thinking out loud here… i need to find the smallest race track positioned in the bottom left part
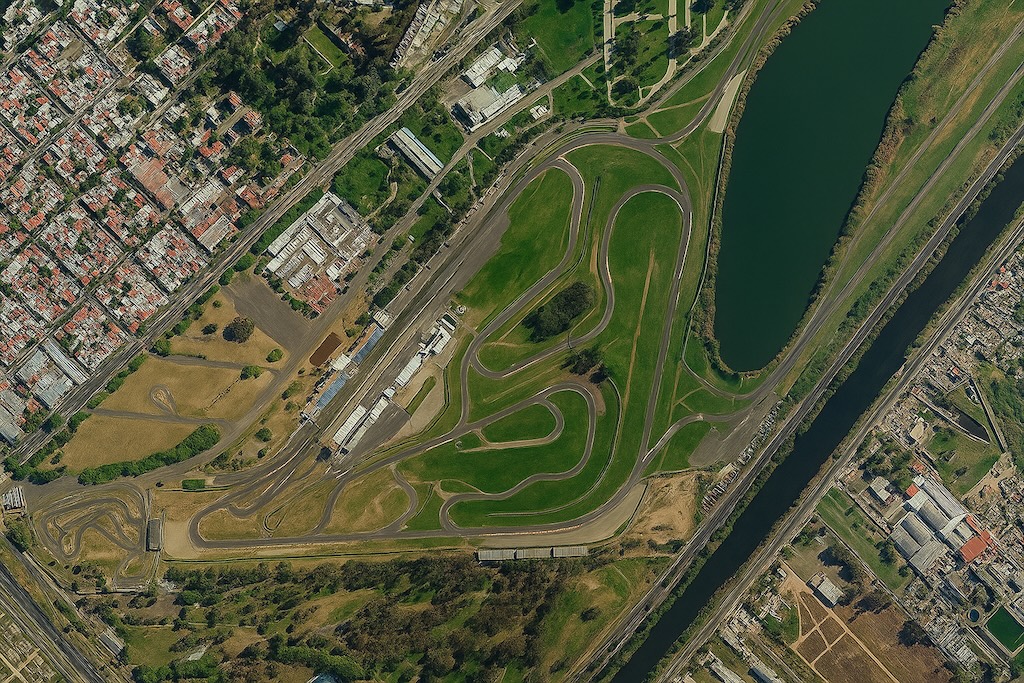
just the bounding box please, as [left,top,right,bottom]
[31,482,147,585]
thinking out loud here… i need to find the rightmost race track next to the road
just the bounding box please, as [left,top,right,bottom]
[164,0,1024,557]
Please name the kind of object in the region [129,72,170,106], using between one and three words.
building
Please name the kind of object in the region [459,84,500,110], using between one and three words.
building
